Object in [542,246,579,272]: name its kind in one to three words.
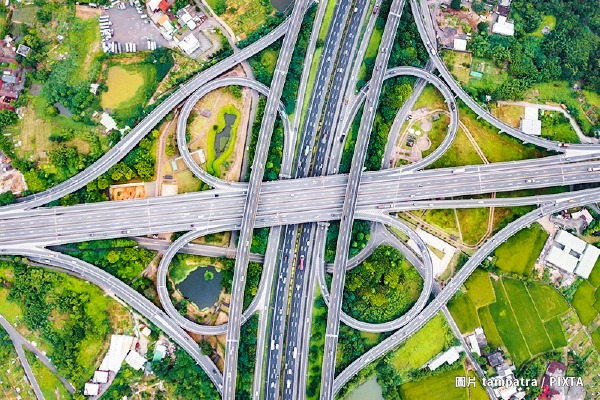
building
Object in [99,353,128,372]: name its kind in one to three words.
building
